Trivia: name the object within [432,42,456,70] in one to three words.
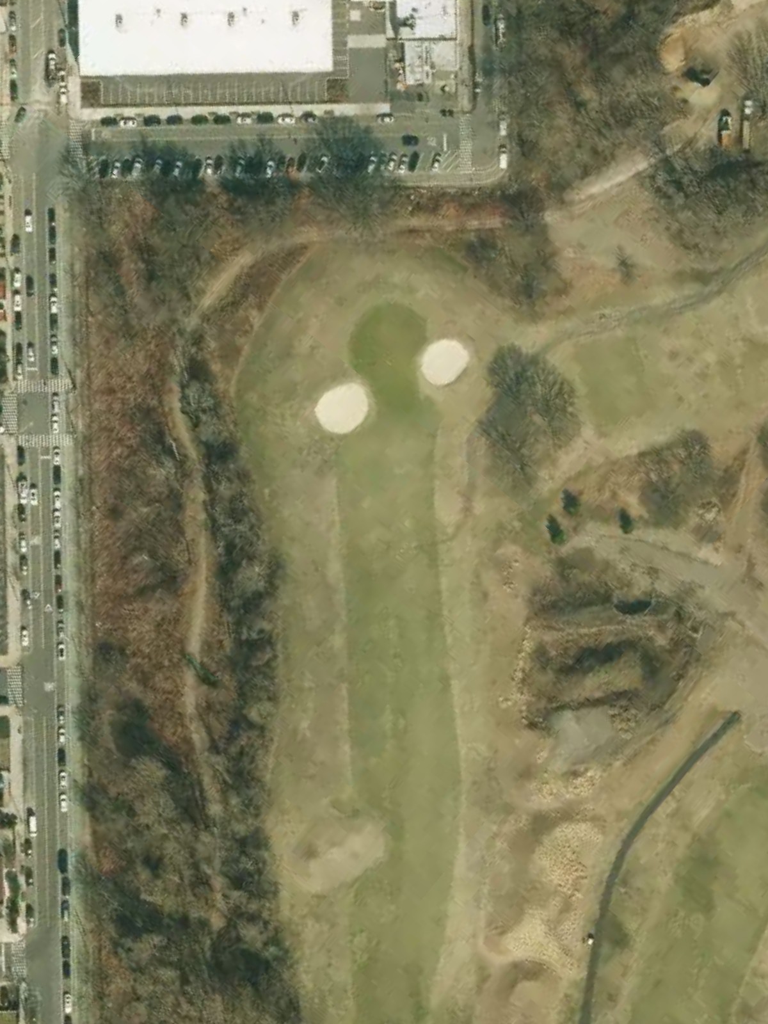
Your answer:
building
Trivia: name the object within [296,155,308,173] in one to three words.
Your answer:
vehicle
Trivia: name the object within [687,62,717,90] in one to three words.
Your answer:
work vehicle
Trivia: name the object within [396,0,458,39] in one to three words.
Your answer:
building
